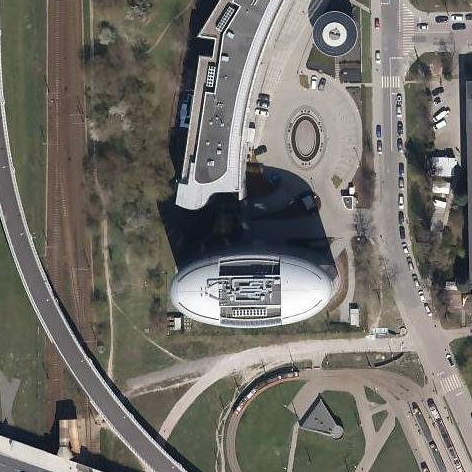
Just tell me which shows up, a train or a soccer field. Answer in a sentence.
Looking from above, you can make out a train.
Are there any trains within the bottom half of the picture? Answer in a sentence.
Yes, within the bottom half of the picture there is a train.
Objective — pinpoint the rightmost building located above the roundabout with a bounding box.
[313,11,358,56]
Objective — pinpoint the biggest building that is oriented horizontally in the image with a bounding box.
[173,252,336,327]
